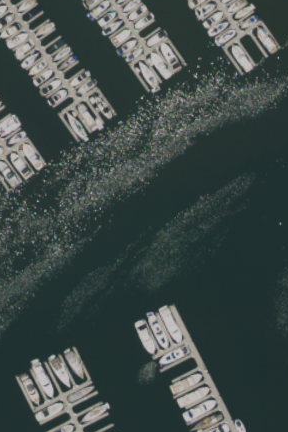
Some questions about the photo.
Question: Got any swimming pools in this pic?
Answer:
No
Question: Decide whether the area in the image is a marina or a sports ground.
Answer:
marina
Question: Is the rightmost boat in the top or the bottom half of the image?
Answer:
top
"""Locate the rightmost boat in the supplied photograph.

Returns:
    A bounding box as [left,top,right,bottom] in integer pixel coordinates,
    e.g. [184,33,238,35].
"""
[258,29,279,56]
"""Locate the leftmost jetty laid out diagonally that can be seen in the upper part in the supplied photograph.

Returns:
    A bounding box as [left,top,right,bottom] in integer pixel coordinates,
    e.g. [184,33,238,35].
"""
[0,0,116,139]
